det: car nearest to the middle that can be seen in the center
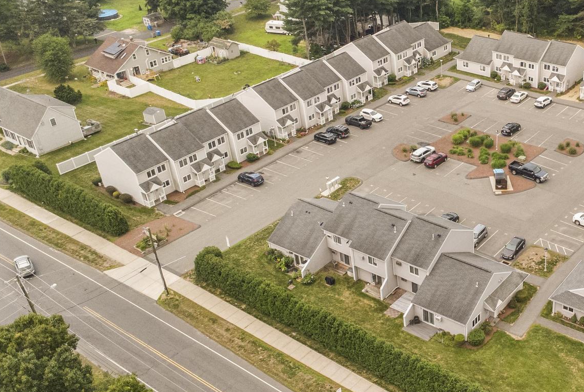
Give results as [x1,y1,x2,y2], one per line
[235,169,264,186]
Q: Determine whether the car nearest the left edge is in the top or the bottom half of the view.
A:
bottom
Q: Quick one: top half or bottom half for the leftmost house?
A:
top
